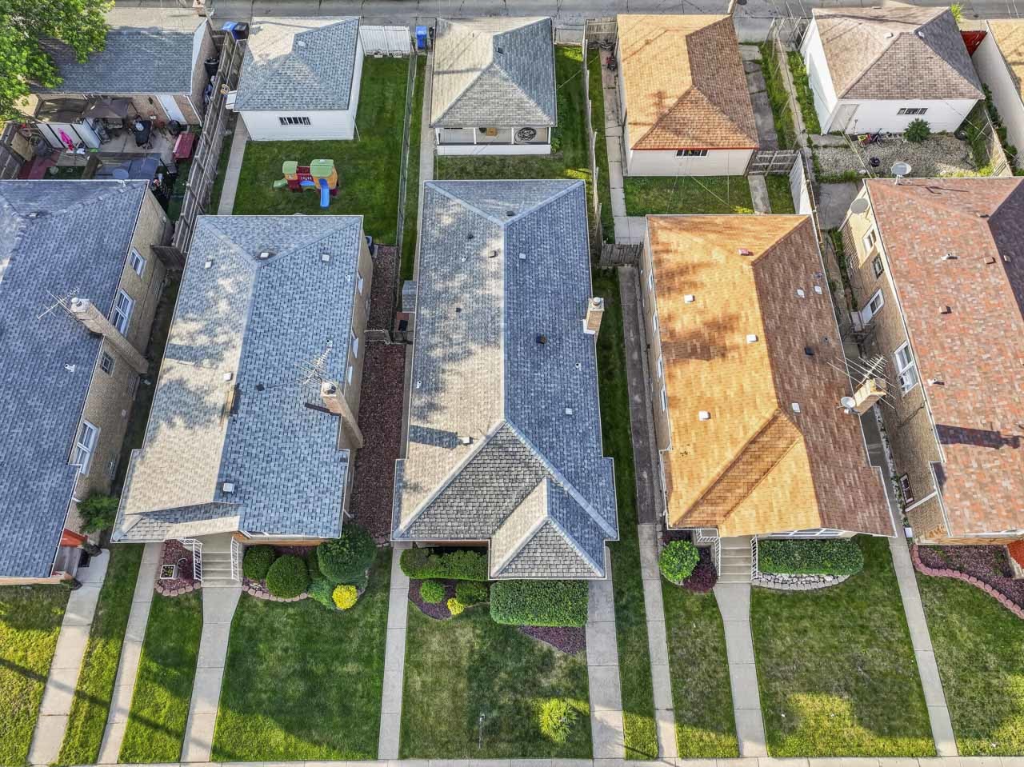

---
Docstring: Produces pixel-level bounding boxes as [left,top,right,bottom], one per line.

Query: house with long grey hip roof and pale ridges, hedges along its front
[388,178,620,586]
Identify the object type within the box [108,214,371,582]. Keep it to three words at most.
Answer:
house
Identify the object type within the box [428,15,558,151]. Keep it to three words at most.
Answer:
building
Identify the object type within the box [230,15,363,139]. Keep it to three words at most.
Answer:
building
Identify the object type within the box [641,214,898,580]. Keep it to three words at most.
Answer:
house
